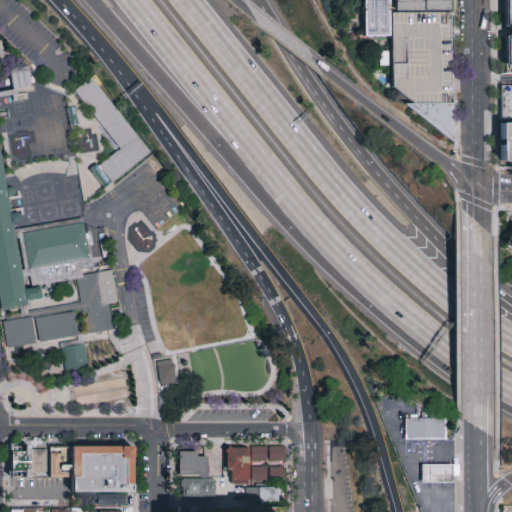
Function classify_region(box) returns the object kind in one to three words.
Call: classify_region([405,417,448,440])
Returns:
building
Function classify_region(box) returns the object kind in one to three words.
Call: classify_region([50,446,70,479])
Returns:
house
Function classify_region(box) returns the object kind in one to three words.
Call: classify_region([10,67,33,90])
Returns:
shed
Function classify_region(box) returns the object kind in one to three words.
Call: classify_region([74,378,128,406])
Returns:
building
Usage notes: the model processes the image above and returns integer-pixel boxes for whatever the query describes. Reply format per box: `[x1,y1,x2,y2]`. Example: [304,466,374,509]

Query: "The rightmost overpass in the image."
[457,193,500,440]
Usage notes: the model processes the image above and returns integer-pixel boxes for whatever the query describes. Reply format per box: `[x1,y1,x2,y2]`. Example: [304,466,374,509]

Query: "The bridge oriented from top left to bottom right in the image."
[228,0,457,190]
